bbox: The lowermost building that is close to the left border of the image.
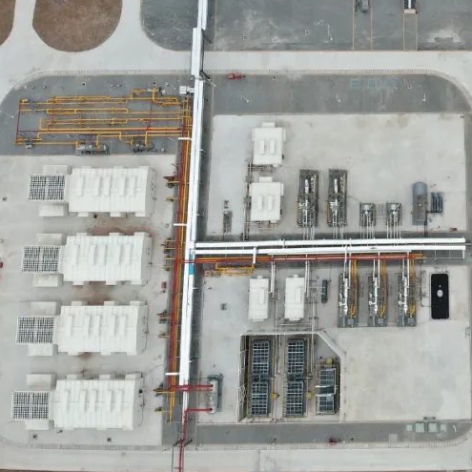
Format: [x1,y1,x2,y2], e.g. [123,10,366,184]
[10,368,150,436]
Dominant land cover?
paved ground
